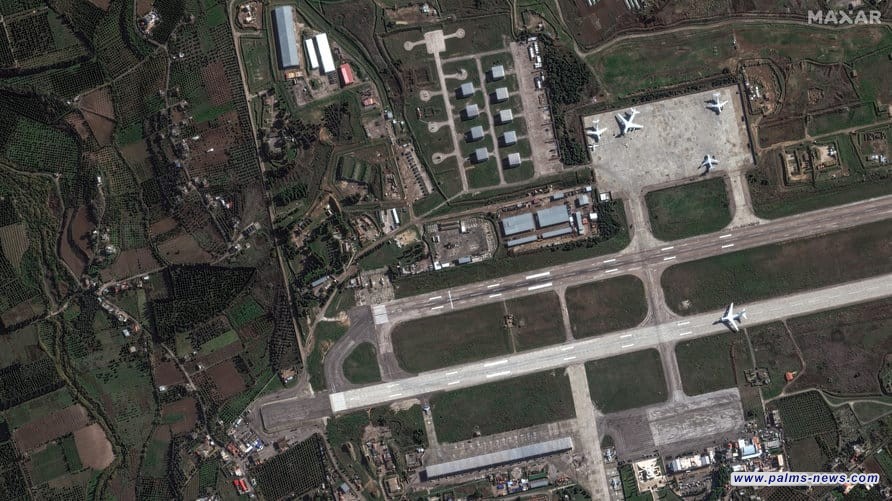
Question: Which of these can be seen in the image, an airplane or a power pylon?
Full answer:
This aerial view contains an airplane.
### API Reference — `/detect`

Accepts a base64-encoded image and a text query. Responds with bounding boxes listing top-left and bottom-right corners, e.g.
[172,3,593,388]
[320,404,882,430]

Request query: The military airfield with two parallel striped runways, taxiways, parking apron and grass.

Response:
[238,20,892,501]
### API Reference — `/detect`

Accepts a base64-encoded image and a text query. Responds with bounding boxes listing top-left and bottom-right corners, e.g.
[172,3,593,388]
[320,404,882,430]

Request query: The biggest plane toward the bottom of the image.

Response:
[722,301,747,328]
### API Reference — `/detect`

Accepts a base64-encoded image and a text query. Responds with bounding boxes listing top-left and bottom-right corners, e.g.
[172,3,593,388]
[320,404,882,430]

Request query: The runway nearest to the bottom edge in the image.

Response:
[329,275,892,412]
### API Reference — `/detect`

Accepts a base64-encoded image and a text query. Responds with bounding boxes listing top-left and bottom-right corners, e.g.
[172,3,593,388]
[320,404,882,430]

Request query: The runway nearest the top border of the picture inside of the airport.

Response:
[372,195,892,324]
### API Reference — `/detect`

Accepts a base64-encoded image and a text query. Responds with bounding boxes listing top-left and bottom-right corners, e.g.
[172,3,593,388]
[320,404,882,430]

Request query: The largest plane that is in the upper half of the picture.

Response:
[618,107,645,133]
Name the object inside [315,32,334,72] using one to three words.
shed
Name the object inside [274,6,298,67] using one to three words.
barn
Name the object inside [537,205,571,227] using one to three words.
building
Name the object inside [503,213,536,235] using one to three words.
building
